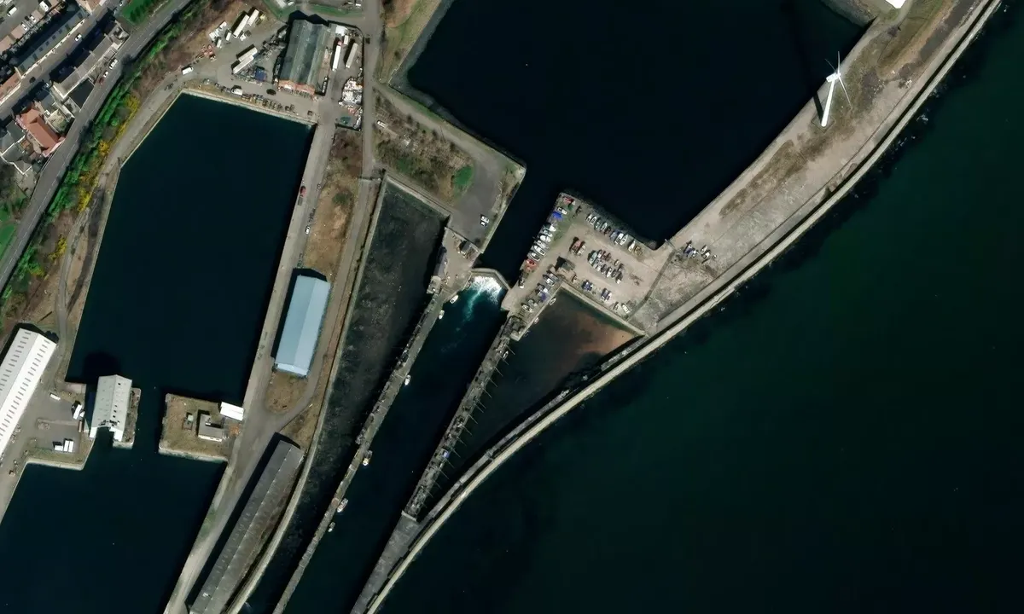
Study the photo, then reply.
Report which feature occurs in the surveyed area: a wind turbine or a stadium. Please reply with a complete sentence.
Visible in the photo is a wind turbine.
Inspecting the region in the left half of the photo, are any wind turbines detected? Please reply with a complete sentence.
No, I can find no wind turbine in the left half of the photo.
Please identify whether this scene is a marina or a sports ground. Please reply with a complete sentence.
It's a marina.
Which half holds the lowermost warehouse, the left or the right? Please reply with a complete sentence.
The lowermost warehouse appears in the left half of the scene.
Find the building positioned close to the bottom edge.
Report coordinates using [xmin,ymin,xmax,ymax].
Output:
[187,440,305,614]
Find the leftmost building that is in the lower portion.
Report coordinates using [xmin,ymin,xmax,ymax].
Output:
[0,328,58,465]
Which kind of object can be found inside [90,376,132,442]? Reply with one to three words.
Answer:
shed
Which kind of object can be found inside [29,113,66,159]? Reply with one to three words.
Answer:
building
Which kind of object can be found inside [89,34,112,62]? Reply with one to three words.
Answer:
house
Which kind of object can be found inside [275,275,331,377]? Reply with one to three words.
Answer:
shed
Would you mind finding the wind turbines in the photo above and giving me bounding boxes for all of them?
[819,59,852,129]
